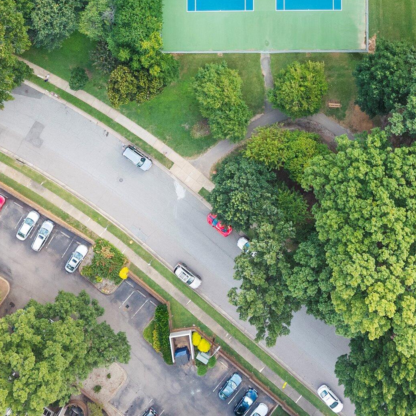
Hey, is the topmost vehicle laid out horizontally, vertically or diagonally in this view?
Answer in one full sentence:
I'd say the topmost vehicle is aligned diagonally in the picture.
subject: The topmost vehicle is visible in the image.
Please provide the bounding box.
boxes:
[121,145,153,170]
